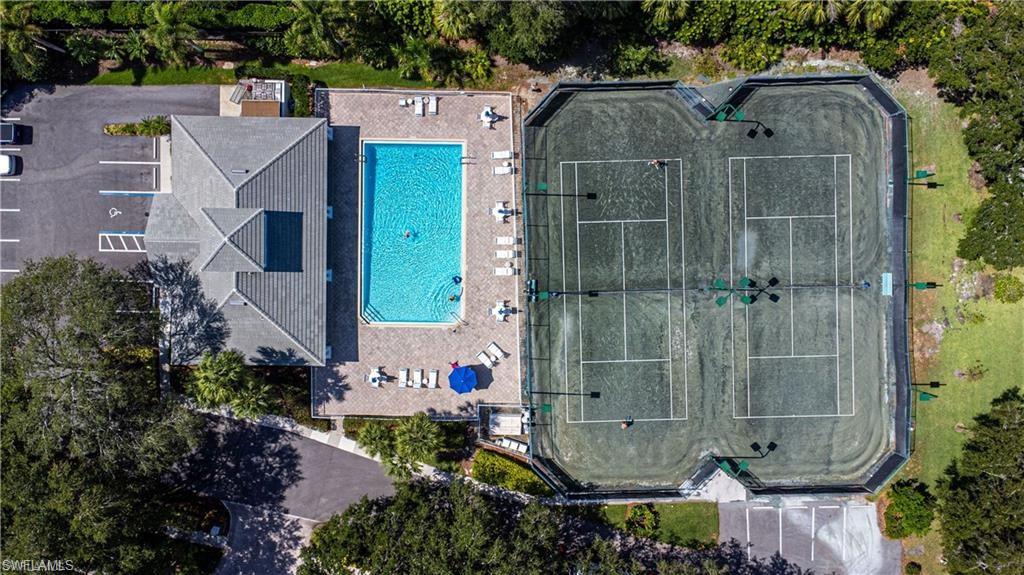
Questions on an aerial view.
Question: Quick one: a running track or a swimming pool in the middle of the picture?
swimming pool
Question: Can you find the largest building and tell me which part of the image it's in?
left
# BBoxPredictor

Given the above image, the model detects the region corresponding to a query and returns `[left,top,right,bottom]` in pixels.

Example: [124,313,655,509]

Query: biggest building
[140,115,333,366]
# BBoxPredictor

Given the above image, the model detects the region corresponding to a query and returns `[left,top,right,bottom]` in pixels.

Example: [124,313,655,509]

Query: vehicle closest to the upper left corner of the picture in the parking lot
[0,121,21,143]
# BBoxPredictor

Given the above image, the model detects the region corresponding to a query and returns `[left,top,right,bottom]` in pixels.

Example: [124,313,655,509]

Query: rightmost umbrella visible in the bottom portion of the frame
[448,364,478,394]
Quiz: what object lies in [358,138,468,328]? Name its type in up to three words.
swimming pool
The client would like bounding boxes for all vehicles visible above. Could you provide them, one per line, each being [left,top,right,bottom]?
[0,155,15,176]
[0,121,21,143]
